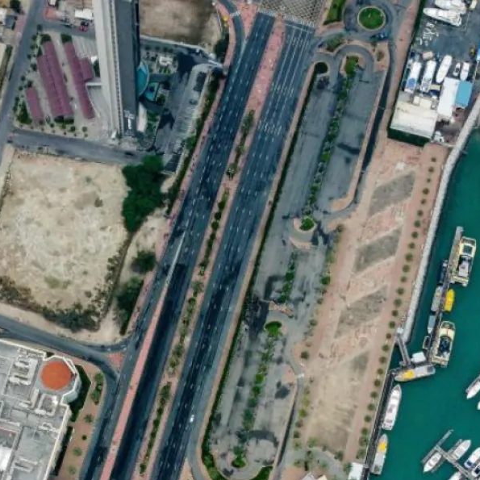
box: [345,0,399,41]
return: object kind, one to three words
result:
roundabout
